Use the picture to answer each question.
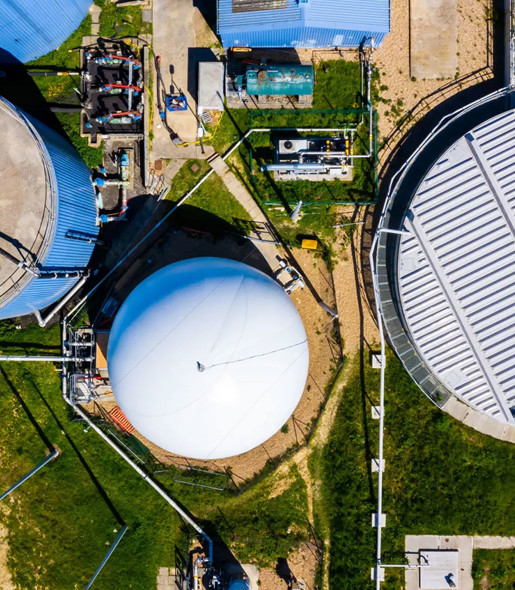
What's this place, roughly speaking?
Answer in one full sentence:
It's an industrial area.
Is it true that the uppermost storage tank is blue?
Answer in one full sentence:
Yes, blue is the color of the uppermost storage tank.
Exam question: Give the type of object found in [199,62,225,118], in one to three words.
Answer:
shed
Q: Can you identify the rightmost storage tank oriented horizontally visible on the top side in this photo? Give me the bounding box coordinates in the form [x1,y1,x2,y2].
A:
[230,63,316,101]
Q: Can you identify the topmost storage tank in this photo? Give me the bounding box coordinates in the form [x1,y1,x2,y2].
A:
[0,0,93,67]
